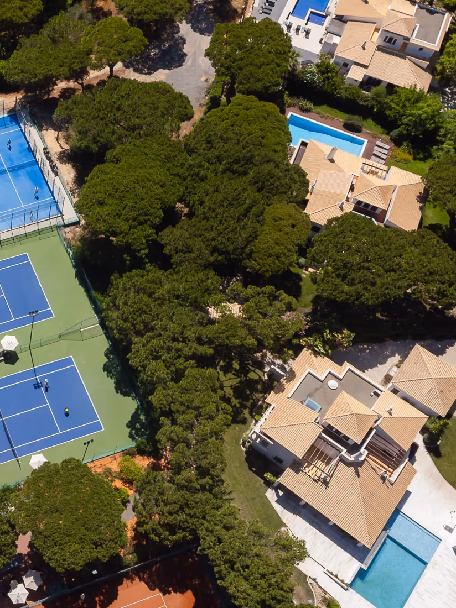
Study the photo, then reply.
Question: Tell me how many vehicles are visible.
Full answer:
The count of vehicles is 0.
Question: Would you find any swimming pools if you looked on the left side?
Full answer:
No, there's no swimming pool to be seen on the left side.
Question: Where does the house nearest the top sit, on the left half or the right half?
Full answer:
The house nearest the top is on the right side of the image.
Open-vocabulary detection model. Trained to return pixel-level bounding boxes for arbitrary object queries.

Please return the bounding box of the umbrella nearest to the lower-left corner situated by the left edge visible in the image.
[8,583,28,606]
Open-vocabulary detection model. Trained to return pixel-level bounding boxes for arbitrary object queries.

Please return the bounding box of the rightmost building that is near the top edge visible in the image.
[319,0,453,86]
